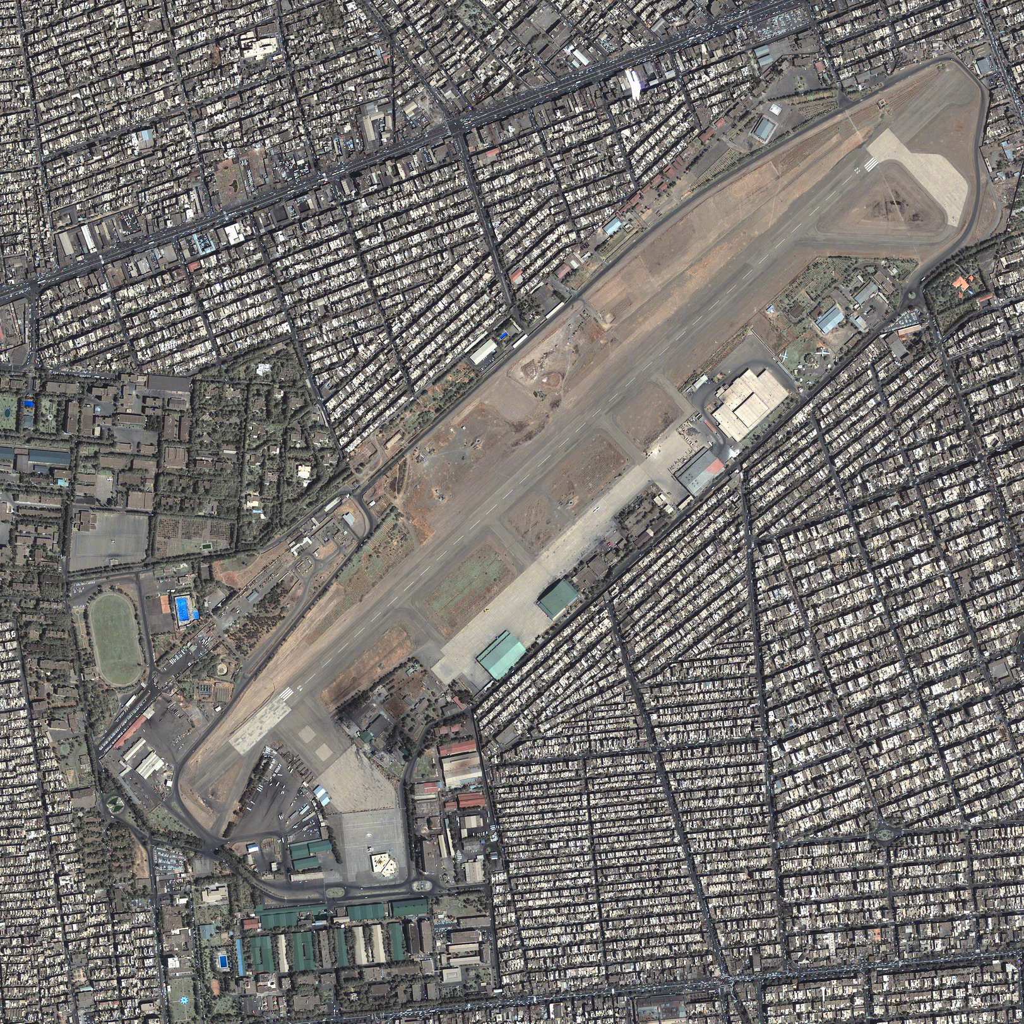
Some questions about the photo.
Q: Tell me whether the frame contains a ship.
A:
No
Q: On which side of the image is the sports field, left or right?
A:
left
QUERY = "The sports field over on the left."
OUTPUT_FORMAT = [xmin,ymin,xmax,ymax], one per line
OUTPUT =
[86,589,147,689]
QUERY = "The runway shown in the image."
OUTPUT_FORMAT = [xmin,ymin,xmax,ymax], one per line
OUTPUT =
[275,152,876,708]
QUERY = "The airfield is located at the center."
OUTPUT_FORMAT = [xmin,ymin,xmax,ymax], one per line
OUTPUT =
[181,61,982,886]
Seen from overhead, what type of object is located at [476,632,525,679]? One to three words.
hangar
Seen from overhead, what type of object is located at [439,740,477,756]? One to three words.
building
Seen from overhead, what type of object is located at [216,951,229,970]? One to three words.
swimming pool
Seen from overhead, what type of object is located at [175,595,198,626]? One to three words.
swimming pool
